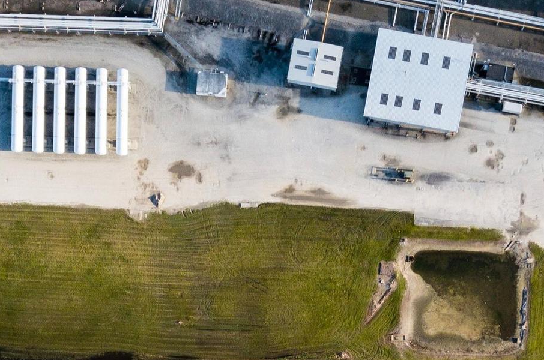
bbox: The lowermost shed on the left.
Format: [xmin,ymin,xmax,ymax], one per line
[196,68,228,98]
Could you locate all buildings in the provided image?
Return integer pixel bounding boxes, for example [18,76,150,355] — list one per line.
[196,68,228,98]
[363,28,474,133]
[288,38,344,91]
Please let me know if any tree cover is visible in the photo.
No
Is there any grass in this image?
Yes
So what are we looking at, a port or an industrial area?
industrial area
